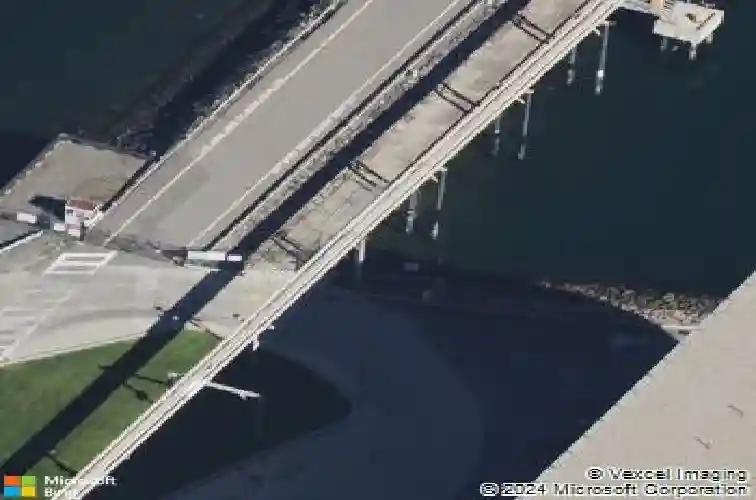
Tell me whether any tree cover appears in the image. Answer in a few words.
No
